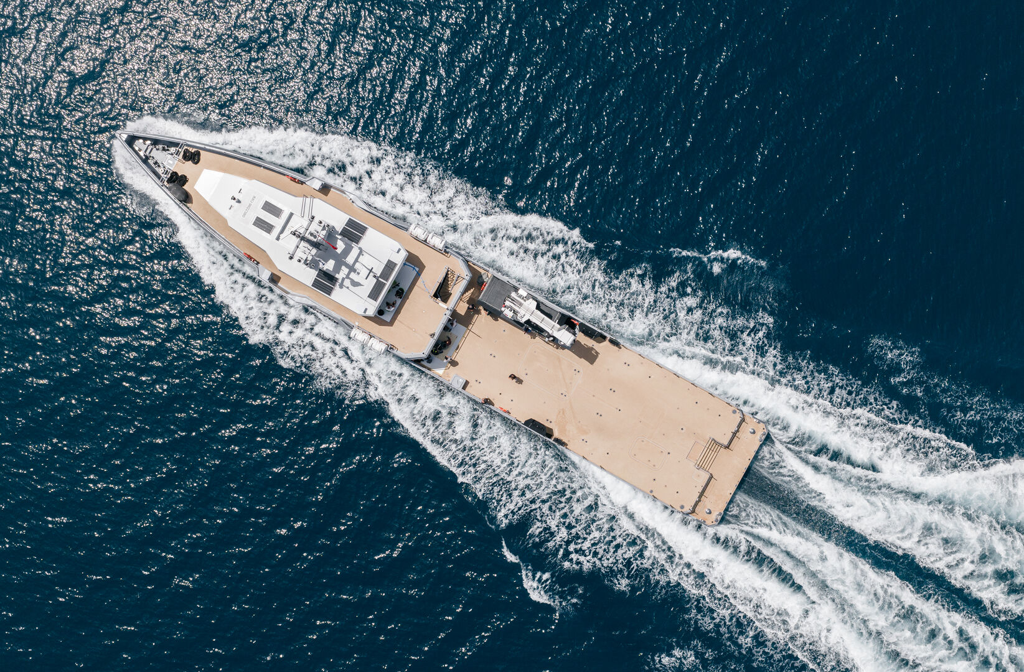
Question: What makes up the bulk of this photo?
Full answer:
What you mostly see from above here is water.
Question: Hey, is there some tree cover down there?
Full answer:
No, there's no tree cover in this view.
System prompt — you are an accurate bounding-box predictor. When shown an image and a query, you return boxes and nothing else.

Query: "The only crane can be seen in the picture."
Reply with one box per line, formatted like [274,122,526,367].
[502,289,579,348]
